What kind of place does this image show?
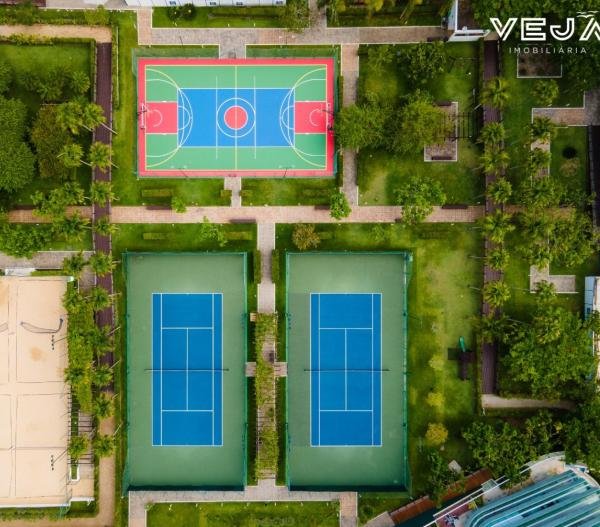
sports ground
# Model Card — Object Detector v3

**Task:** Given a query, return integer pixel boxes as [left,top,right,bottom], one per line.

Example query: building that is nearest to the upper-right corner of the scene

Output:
[448,0,490,41]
